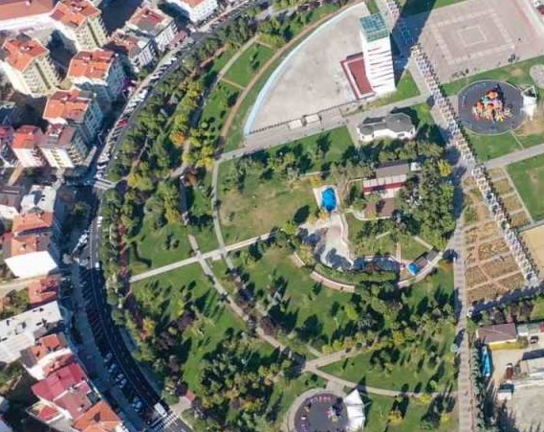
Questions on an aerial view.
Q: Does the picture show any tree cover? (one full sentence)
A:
Yes, tree cover can be seen from above here.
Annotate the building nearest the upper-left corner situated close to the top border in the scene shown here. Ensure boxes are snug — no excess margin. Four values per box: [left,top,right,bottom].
[0,0,57,32]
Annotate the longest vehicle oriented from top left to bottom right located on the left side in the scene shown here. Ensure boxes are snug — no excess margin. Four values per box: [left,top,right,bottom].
[149,395,167,420]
